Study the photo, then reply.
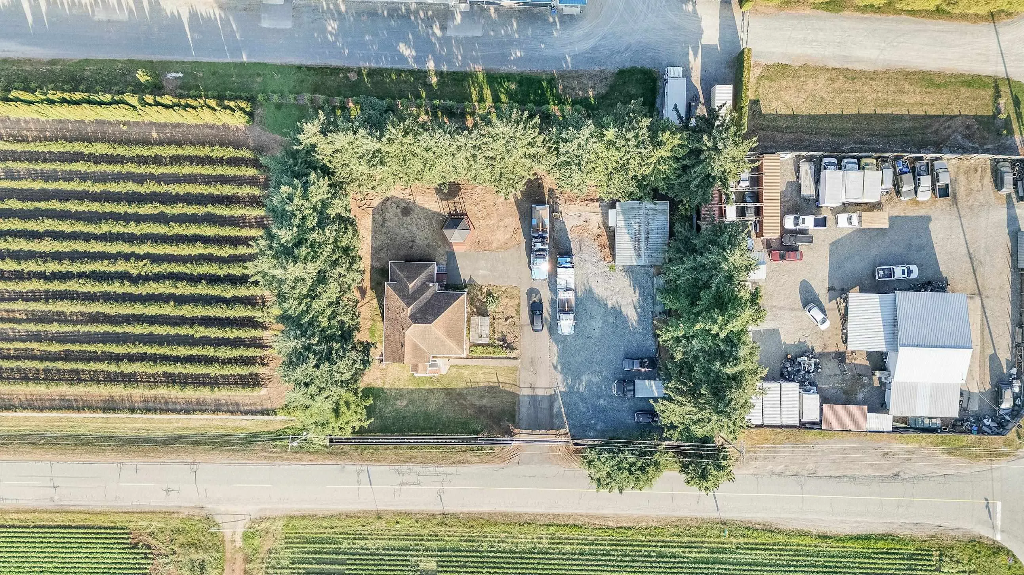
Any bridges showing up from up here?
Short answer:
No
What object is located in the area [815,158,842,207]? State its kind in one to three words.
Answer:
truck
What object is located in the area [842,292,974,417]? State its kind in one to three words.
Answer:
building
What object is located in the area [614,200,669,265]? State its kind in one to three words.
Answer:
barn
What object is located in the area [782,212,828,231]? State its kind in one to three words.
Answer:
vehicle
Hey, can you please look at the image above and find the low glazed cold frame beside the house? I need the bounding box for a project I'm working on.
[470,317,490,343]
